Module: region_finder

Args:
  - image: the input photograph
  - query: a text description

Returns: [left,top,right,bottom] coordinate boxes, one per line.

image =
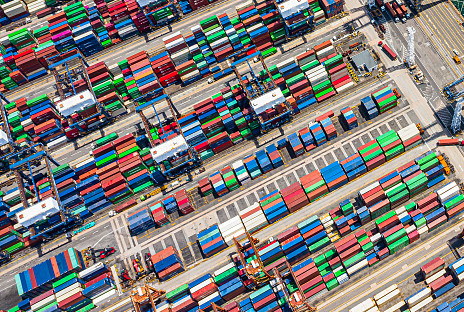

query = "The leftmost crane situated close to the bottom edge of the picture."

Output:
[129,285,162,312]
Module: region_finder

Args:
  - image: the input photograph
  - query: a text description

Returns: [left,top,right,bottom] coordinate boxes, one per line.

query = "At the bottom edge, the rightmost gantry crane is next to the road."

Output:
[273,262,314,312]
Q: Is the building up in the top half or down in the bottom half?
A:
top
